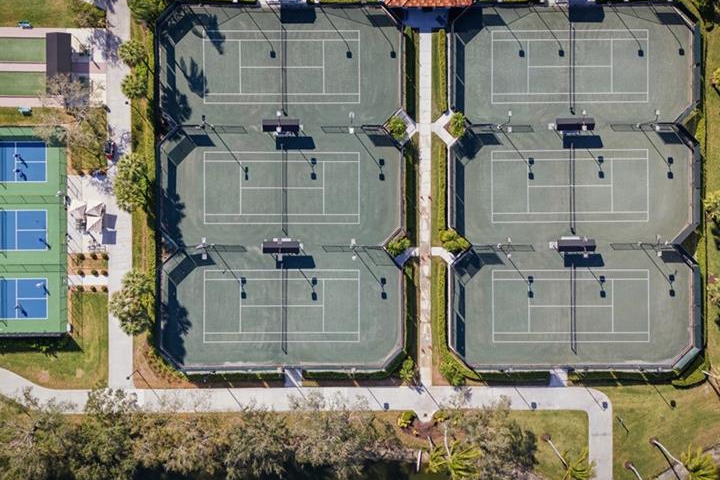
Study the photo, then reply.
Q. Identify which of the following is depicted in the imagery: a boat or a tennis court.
tennis court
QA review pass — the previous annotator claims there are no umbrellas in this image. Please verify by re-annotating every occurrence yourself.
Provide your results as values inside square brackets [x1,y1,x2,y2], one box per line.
[70,201,88,219]
[87,217,103,232]
[88,200,104,216]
